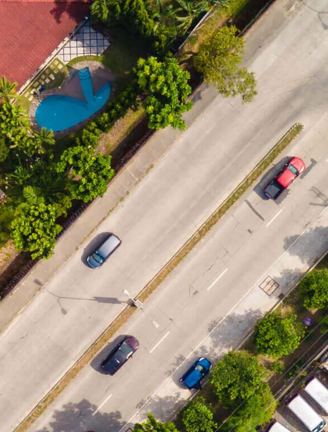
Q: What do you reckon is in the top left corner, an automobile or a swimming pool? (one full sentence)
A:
The one visible in the top left corner is a swimming pool.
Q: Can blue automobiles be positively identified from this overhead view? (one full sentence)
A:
Yes, the frame does contain a blue automobile.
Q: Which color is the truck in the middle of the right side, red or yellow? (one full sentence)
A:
The truck in the middle of the right side looks red in the image.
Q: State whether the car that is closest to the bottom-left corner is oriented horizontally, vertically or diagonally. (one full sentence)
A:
The car that is closest to the bottom-left corner has been laid out diagonally relative to the frame.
